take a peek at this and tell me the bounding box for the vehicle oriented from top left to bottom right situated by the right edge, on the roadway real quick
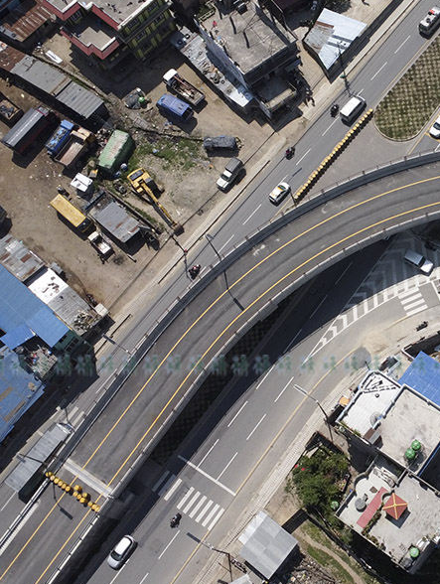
[402,250,434,276]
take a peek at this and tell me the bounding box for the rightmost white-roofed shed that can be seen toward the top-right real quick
[305,9,367,79]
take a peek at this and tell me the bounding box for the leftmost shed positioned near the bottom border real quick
[240,511,301,578]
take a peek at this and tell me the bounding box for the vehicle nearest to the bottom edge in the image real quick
[108,534,139,569]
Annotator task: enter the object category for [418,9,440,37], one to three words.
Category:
car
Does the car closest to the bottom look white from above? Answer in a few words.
Yes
